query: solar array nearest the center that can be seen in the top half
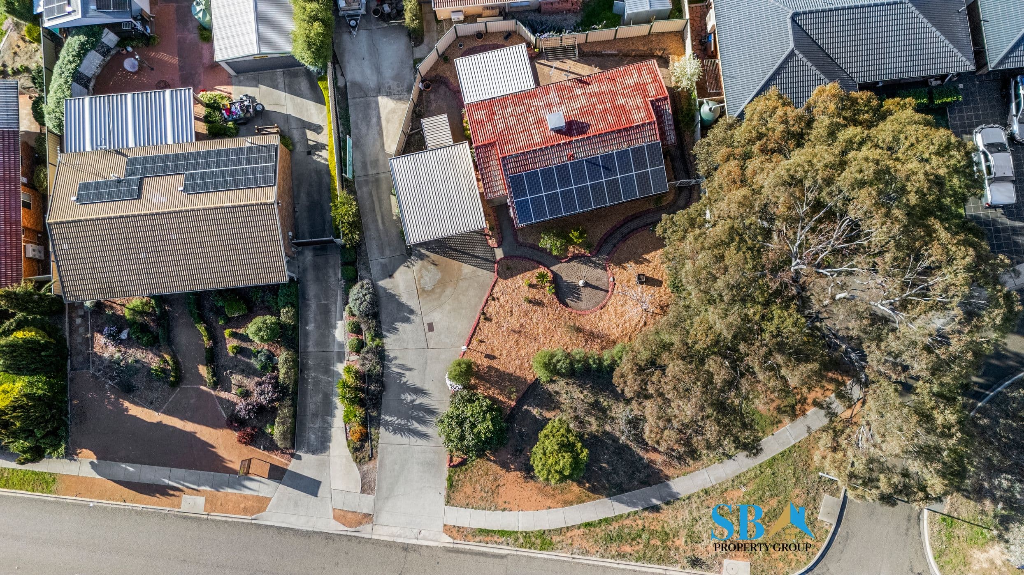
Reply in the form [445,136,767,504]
[509,144,667,225]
